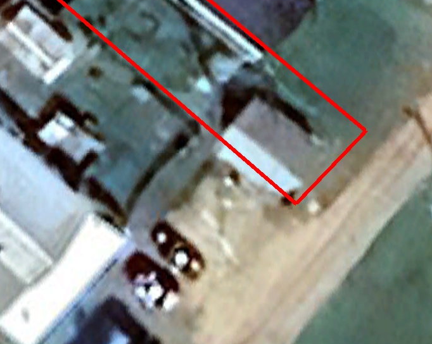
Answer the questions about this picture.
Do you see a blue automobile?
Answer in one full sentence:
No, the scene contains no blue automobile.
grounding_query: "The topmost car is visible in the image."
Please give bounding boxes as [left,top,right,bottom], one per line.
[145,218,208,281]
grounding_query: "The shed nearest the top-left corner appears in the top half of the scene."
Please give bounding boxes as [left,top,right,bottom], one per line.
[0,4,77,84]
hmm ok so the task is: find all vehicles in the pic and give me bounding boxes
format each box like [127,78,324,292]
[117,247,185,316]
[145,218,208,281]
